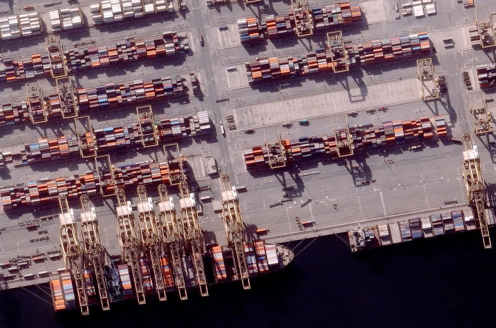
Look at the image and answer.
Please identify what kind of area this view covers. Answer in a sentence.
This looks like a port.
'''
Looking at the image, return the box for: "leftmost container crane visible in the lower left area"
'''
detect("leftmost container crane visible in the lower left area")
[58,193,89,316]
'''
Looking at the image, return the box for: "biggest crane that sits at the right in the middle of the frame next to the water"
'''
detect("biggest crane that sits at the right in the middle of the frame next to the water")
[459,126,491,247]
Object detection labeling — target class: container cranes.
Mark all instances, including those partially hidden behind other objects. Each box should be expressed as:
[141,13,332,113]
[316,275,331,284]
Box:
[156,177,187,299]
[136,180,167,302]
[58,193,89,316]
[327,31,350,76]
[136,105,159,151]
[75,114,97,160]
[45,35,67,81]
[26,82,48,128]
[291,0,313,40]
[219,167,251,288]
[116,184,146,306]
[177,174,208,295]
[416,57,439,103]
[163,143,185,189]
[56,77,78,123]
[264,126,286,172]
[459,126,491,247]
[475,6,496,51]
[95,154,118,199]
[79,190,109,312]
[469,89,492,135]
[332,115,355,161]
